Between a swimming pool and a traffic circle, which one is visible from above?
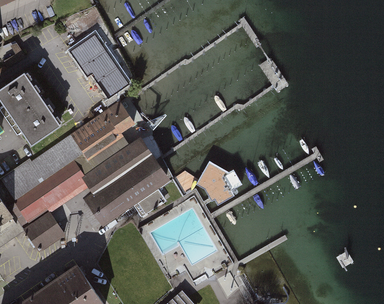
swimming pool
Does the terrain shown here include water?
Yes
